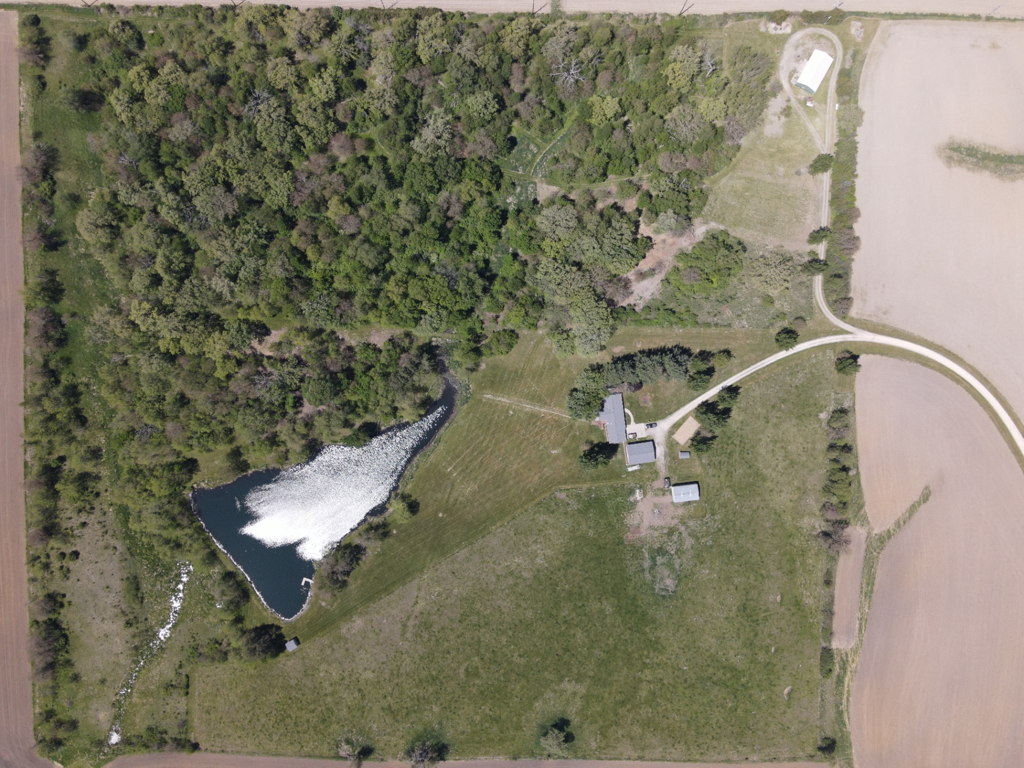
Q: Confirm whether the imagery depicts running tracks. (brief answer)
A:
No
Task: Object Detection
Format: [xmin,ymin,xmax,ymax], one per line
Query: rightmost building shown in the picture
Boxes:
[795,49,834,94]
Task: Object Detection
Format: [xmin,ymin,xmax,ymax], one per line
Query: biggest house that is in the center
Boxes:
[598,394,627,443]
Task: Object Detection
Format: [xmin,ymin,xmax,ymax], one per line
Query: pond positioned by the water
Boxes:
[194,343,456,619]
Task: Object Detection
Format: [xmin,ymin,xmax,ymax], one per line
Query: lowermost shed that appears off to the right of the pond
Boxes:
[671,484,699,502]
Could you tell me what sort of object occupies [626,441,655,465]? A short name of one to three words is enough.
building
